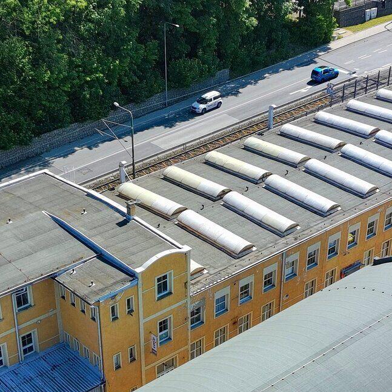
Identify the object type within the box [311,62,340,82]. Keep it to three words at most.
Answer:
car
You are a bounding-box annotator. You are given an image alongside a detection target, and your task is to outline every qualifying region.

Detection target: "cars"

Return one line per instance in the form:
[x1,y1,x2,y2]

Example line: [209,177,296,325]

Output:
[311,62,340,82]
[190,89,225,112]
